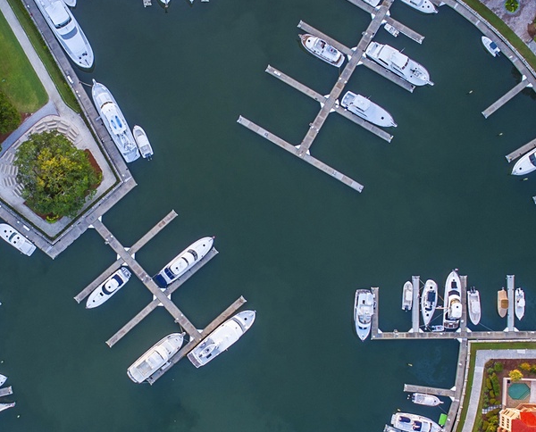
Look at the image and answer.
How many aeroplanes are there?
0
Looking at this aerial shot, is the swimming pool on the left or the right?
right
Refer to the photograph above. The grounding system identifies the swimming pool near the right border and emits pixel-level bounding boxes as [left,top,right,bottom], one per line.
[499,378,536,409]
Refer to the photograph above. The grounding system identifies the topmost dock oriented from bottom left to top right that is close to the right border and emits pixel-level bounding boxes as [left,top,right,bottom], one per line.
[481,75,533,118]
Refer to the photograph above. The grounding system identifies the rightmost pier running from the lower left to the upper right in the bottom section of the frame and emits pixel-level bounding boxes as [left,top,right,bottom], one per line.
[195,296,247,339]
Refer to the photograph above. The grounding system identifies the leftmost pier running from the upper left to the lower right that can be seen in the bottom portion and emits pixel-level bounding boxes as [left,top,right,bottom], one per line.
[91,218,203,344]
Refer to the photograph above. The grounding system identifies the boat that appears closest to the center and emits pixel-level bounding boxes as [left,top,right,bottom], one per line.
[156,235,216,287]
